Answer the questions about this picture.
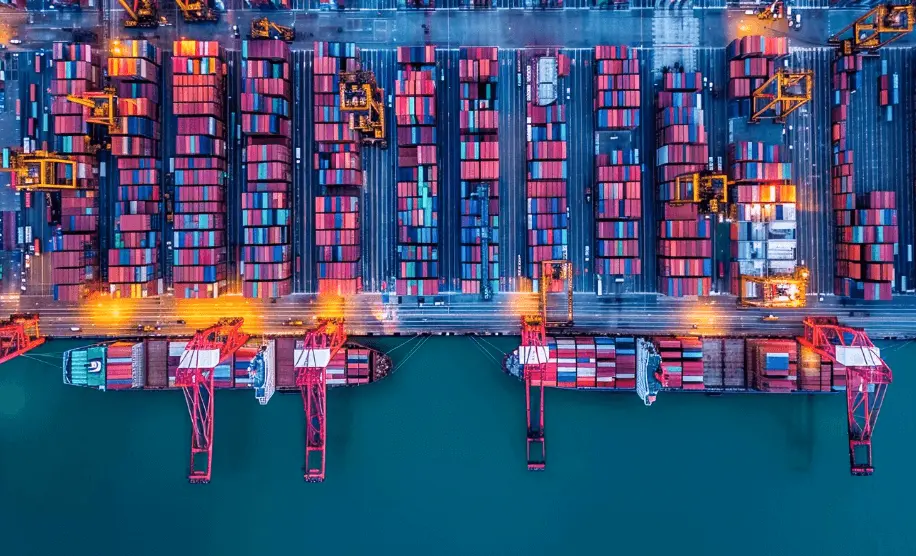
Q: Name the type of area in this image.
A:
port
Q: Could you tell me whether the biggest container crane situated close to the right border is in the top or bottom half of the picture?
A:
bottom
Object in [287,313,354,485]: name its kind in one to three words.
container crane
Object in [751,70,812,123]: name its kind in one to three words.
container crane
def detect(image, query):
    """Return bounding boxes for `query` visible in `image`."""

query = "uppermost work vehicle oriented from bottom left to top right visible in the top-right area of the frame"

[754,0,784,25]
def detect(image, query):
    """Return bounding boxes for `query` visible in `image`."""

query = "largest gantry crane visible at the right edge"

[796,313,900,478]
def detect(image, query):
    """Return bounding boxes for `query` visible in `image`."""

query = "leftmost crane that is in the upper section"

[0,152,75,192]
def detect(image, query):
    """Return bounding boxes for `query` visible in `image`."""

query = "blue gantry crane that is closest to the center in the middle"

[475,186,494,297]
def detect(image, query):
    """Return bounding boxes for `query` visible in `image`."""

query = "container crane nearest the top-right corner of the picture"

[829,4,914,59]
